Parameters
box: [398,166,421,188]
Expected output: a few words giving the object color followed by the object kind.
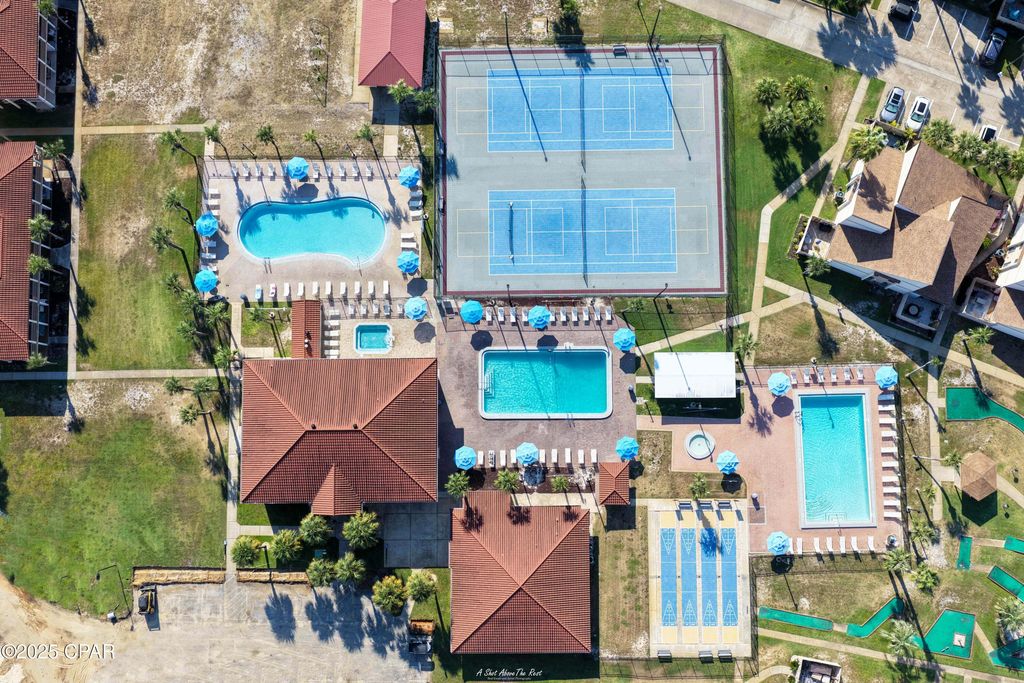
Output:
blue umbrella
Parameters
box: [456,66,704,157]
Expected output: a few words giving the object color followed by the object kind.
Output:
blue tennis court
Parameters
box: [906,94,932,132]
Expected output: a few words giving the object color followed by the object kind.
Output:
white car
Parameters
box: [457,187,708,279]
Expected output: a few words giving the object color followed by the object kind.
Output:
blue tennis court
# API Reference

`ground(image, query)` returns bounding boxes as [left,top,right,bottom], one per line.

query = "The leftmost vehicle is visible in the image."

[136,583,155,616]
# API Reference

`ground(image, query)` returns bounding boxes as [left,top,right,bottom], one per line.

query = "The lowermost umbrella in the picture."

[767,531,790,554]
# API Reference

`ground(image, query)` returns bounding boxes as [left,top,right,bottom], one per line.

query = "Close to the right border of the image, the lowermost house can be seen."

[958,229,1024,338]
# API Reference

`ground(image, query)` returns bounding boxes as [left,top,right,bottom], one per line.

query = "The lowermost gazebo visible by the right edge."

[961,451,997,501]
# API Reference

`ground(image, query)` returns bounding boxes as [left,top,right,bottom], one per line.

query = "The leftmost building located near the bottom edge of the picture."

[450,490,591,654]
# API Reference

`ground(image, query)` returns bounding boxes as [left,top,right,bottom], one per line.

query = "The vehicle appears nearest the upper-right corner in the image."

[978,29,1007,70]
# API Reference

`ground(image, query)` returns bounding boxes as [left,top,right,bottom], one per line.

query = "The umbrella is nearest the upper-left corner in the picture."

[196,214,218,236]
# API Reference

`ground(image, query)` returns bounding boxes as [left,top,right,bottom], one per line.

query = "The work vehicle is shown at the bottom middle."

[413,633,429,663]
